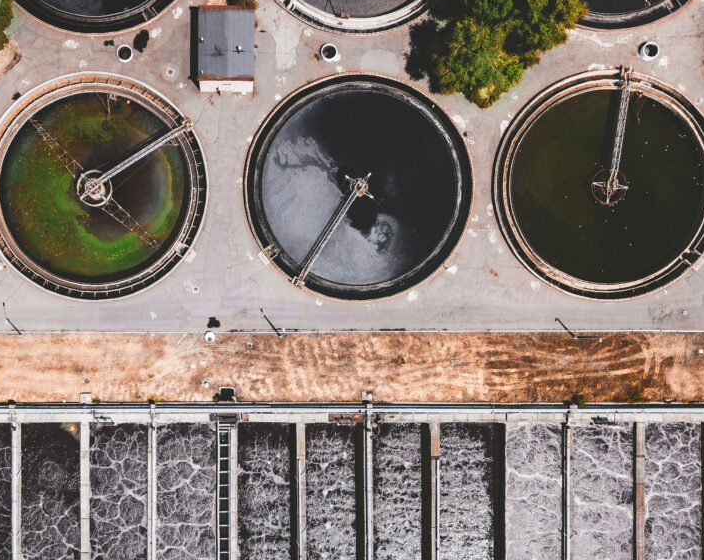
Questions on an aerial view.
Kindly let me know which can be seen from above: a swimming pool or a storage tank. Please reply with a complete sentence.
It is a storage tank that can be seen here.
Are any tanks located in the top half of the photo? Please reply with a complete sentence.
Yes, a tank appears in the top half of the photo.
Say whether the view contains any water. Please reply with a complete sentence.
Yes, some water is visible.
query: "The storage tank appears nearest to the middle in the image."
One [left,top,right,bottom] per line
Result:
[241,69,475,303]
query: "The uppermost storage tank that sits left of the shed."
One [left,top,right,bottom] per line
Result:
[15,0,179,36]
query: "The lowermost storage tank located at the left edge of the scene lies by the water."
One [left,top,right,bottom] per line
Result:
[0,70,209,301]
